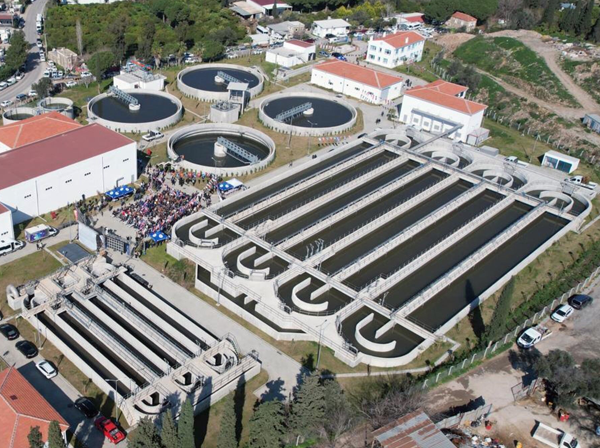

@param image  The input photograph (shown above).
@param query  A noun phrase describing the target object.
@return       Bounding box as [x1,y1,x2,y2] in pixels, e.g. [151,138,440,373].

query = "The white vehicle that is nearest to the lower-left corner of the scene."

[33,355,60,377]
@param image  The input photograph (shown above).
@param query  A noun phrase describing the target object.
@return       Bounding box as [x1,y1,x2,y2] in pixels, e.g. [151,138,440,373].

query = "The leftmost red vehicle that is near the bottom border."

[93,412,129,446]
